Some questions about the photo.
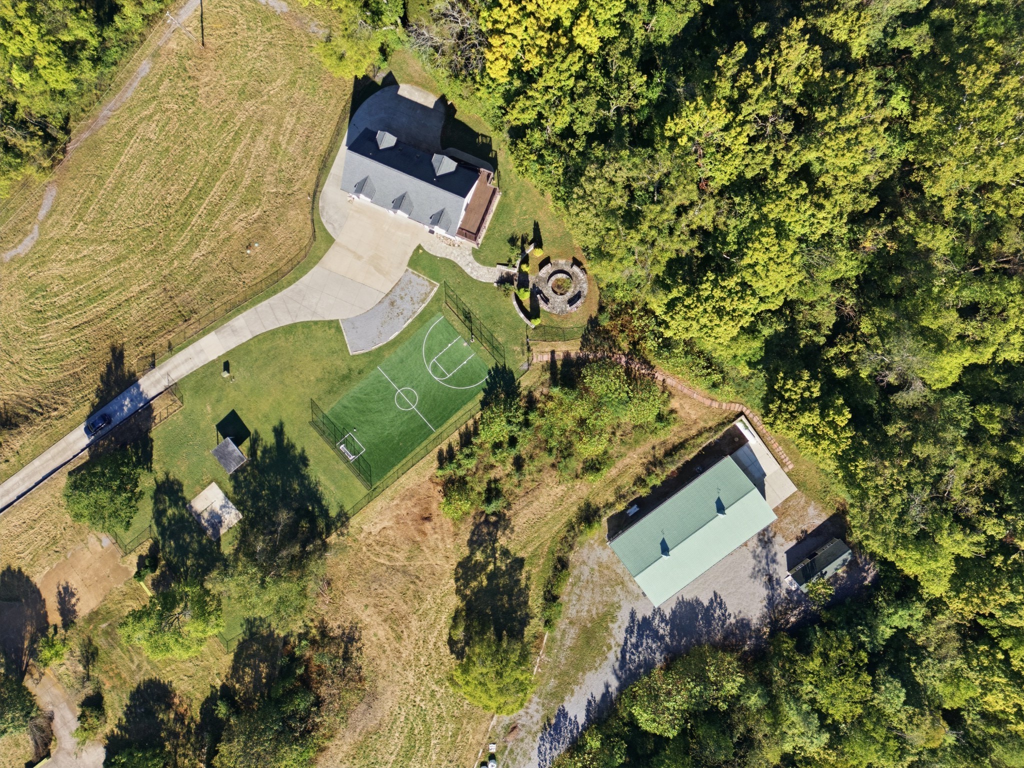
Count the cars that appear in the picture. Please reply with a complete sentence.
The picture shows 1 car.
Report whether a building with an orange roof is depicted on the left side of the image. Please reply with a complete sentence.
No, I see no building with an orange roof on the left side of the image.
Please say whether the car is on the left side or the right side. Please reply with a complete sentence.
The car appears in the left half of the scene.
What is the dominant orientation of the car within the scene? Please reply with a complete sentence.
What the image shows is the car lying at an angle.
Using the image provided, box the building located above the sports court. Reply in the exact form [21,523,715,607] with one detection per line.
[338,123,480,240]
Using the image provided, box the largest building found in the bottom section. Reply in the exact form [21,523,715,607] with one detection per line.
[609,456,777,607]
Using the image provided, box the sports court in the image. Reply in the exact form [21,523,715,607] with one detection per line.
[327,313,503,487]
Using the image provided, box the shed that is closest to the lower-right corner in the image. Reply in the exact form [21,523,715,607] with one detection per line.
[788,538,854,594]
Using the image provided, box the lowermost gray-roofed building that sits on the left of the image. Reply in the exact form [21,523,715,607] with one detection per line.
[210,437,251,474]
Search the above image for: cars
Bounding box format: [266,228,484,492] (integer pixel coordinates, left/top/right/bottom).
[81,412,110,436]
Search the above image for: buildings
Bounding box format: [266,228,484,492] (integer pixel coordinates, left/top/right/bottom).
[788,538,854,594]
[338,123,480,240]
[609,456,777,607]
[210,437,251,474]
